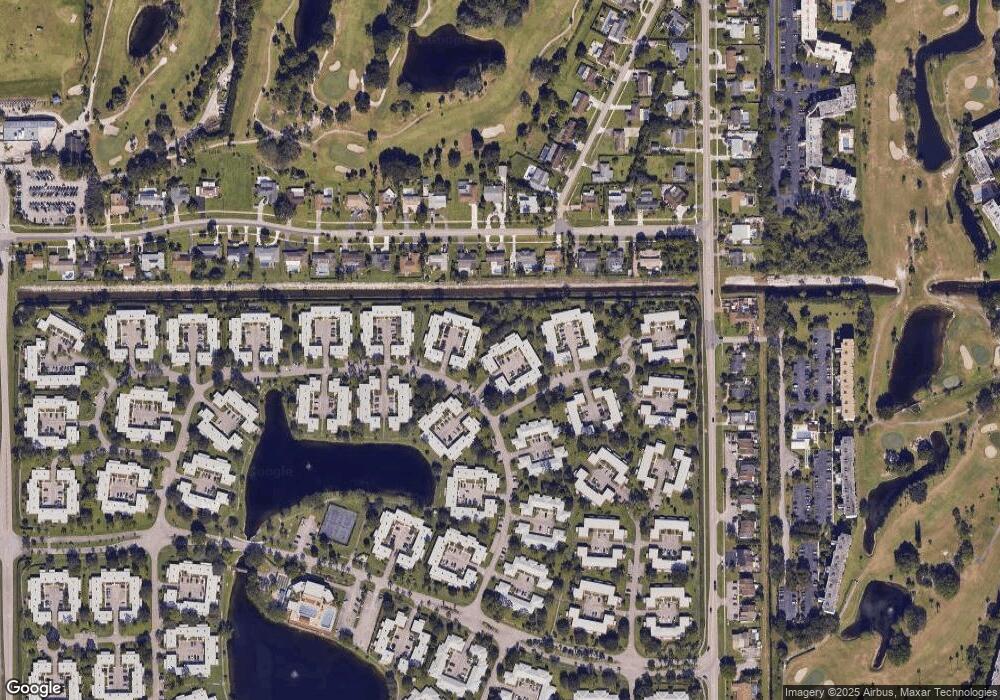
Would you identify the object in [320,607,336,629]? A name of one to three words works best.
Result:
swimming pool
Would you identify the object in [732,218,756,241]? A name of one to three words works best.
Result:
house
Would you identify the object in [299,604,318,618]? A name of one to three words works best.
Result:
swimming pool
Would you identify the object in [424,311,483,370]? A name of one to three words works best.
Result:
building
